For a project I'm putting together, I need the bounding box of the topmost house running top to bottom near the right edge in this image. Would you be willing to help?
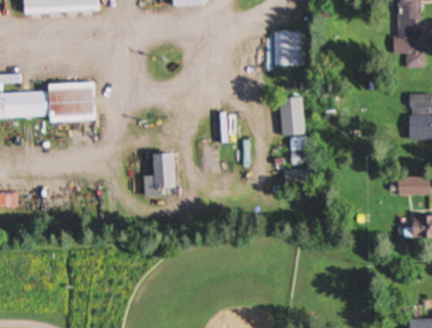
[393,0,426,68]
